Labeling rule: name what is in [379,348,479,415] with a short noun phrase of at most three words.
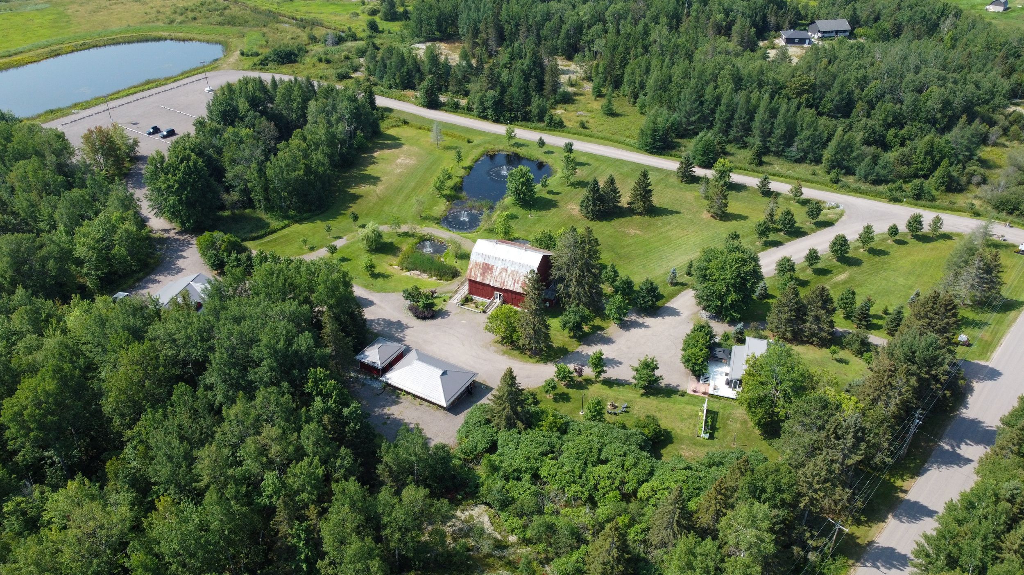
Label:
shed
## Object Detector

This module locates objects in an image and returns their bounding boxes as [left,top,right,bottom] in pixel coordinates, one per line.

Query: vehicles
[159,127,176,138]
[144,122,161,135]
